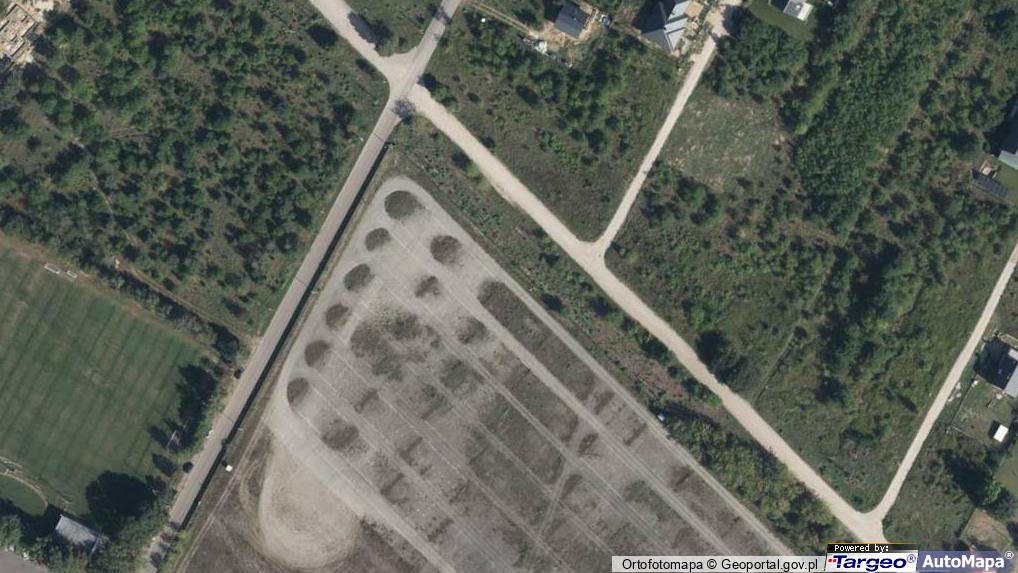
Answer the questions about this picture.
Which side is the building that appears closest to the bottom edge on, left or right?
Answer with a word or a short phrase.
left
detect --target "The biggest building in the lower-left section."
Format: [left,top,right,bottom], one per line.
[54,516,95,549]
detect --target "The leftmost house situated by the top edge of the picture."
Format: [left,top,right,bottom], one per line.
[555,1,590,38]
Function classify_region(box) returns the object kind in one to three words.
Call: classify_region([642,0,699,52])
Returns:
house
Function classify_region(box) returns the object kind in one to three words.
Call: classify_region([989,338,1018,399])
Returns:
house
